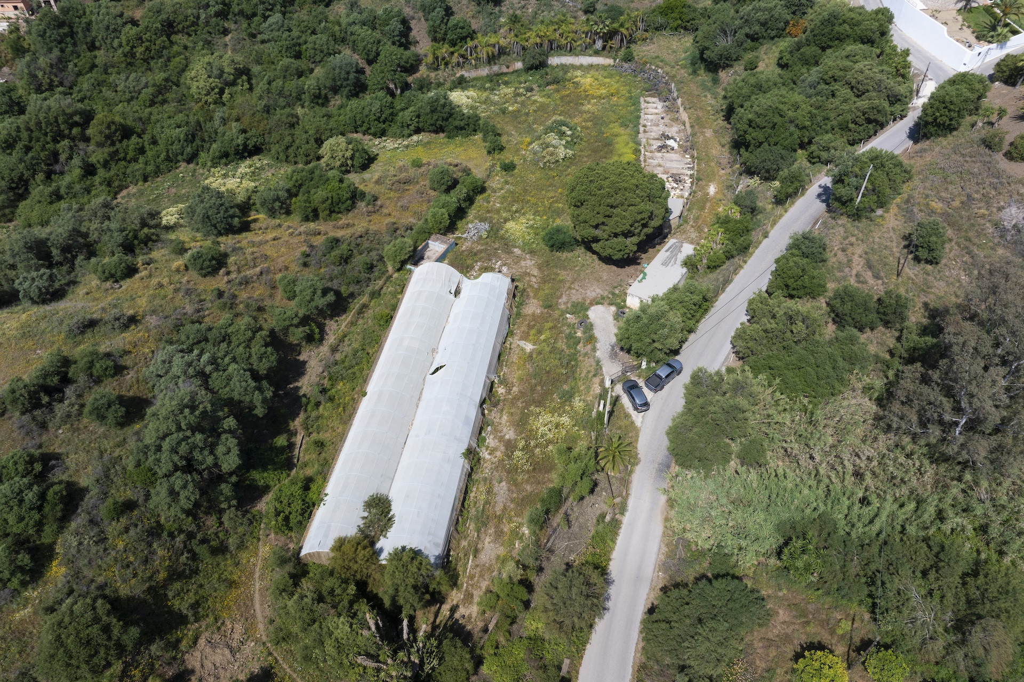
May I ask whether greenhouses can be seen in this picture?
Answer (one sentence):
Yes, you can see a greenhouse in this photo.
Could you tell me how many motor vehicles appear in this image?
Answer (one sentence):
In total, 2 motor vehicles can be seen.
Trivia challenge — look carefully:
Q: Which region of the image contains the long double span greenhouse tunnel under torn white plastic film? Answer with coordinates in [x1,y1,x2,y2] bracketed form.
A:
[300,263,519,577]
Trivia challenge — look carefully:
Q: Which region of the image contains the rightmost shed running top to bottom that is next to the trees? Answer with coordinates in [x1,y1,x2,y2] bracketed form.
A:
[662,198,684,237]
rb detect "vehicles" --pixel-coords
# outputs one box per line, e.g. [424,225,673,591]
[621,376,652,412]
[641,356,687,393]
